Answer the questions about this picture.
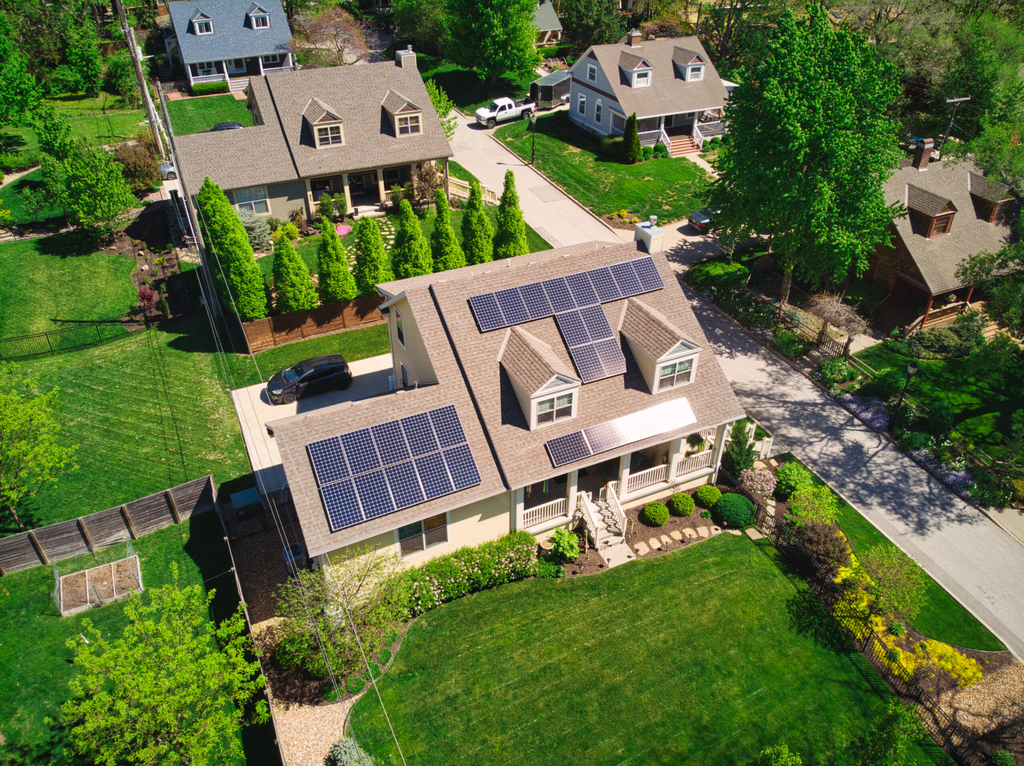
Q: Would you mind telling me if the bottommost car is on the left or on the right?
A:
left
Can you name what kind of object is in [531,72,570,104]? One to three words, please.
trailer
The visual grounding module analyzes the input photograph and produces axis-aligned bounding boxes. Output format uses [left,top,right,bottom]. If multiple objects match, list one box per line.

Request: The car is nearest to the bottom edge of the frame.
[270,355,358,406]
